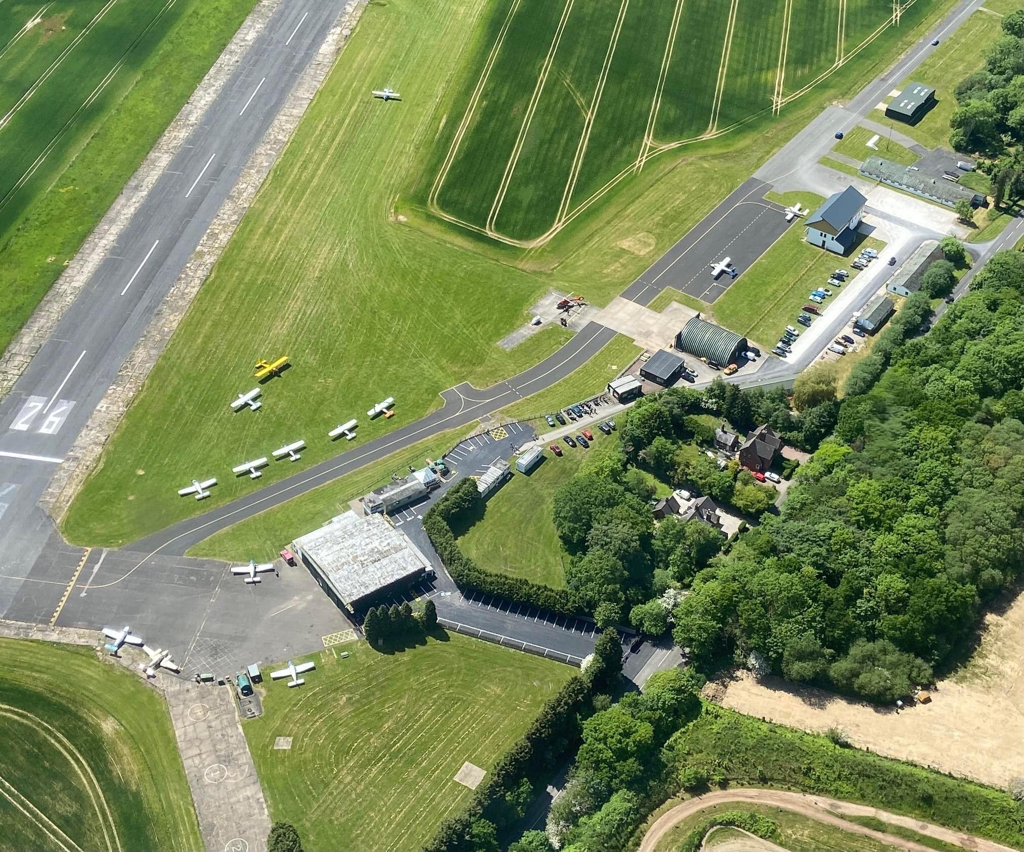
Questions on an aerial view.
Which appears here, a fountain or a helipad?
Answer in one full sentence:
I can see a helipad in this picture.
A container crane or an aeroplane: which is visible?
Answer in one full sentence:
The image shows an aeroplane.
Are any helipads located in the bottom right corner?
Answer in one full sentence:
No, I can find no helipad in the bottom right corner.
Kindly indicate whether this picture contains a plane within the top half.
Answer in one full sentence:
Yes, there is a plane within the top half.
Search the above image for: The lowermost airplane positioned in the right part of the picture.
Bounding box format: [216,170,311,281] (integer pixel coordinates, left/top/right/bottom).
[710,255,737,279]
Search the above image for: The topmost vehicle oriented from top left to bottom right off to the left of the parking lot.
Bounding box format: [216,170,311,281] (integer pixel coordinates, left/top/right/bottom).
[279,547,296,565]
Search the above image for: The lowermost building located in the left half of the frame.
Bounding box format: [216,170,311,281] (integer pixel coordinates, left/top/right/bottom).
[292,506,438,621]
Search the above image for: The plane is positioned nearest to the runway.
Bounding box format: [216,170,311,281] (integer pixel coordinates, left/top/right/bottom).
[372,88,402,102]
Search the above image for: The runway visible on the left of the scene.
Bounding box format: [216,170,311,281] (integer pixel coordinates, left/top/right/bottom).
[0,0,348,512]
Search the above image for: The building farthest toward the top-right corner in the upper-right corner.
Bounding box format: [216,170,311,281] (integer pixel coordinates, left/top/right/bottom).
[884,83,935,125]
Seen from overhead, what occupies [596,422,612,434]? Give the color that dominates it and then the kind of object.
gray vehicle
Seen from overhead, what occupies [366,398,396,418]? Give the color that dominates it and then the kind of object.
white airplane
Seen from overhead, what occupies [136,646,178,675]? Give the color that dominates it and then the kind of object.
white airplane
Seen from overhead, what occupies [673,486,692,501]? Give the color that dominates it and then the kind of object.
white vehicle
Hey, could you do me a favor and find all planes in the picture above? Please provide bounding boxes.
[372,88,402,102]
[230,388,262,409]
[177,478,217,499]
[268,660,316,685]
[270,440,306,460]
[710,255,737,279]
[327,418,359,439]
[136,646,178,675]
[255,358,287,378]
[229,559,275,581]
[366,398,396,418]
[231,457,269,478]
[99,624,147,650]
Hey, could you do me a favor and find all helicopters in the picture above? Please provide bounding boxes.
[552,292,584,309]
